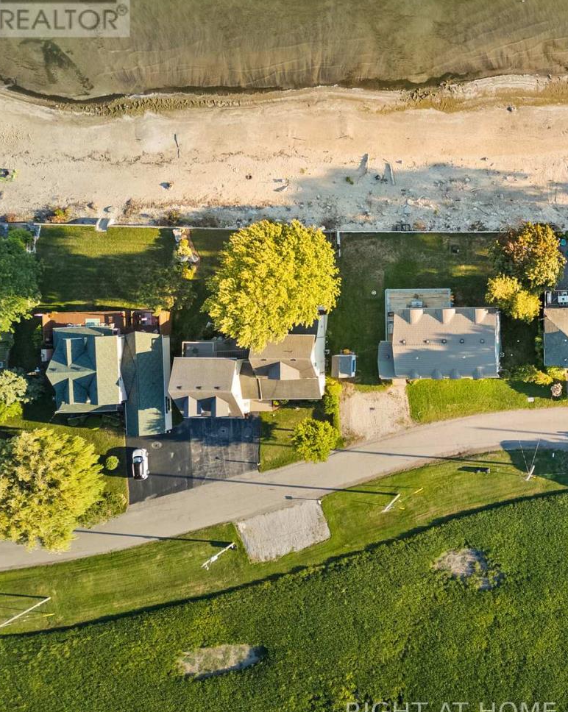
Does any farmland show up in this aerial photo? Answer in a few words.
Yes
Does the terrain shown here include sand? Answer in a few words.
Yes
